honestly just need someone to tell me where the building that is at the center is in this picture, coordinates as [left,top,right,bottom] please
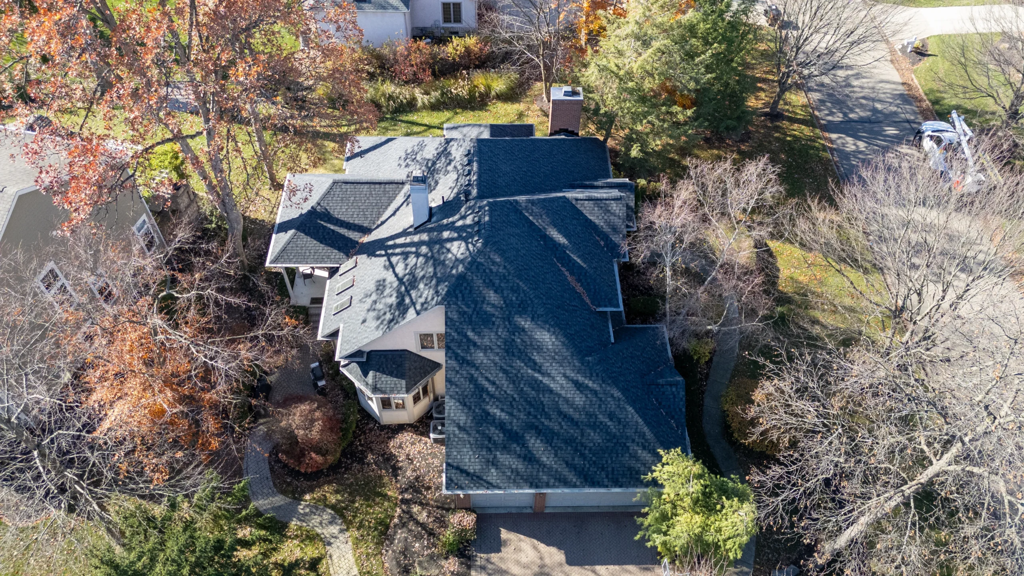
[264,84,691,518]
